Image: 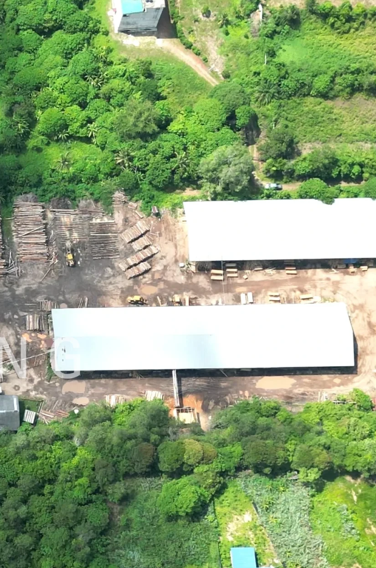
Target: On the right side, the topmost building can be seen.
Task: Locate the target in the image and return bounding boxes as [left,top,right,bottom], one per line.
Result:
[179,198,376,273]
